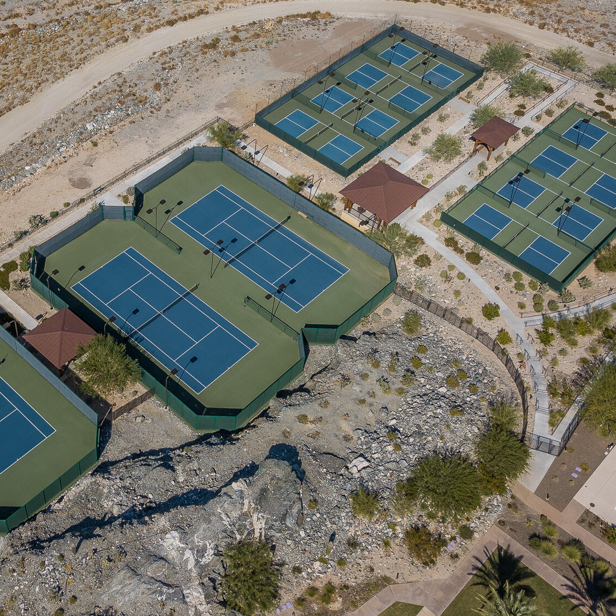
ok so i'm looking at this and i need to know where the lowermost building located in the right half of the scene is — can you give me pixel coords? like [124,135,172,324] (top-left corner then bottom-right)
[339,160,430,229]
